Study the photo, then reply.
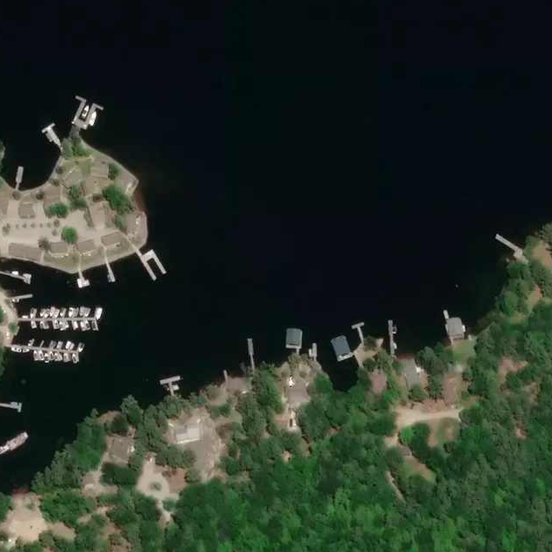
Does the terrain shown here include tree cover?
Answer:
Yes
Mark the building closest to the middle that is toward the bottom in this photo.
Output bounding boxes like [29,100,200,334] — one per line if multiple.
[285,330,303,350]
